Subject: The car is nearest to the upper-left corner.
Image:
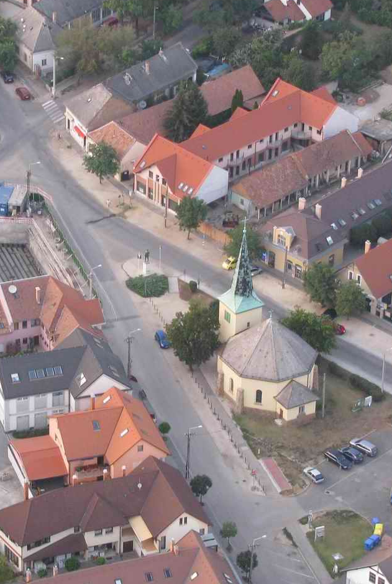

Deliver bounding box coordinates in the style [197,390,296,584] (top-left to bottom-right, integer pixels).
[0,69,17,85]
